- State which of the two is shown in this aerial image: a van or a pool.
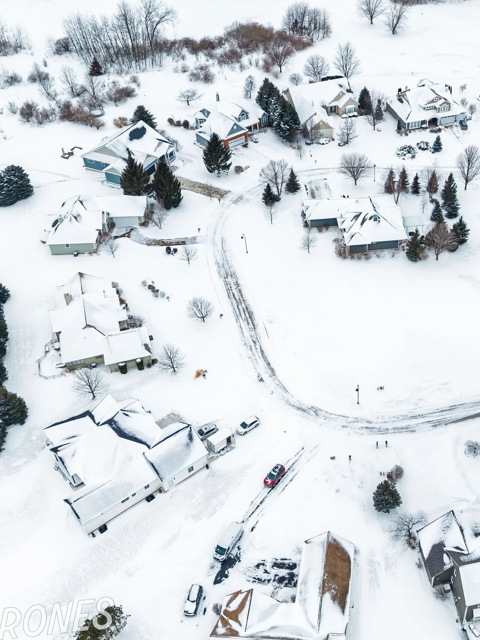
van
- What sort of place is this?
residential area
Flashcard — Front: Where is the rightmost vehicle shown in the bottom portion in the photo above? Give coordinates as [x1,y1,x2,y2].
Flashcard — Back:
[262,459,290,490]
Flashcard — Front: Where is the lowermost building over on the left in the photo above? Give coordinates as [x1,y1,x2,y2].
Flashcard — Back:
[34,390,211,535]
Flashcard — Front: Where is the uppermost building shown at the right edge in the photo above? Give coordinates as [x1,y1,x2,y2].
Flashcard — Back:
[386,76,468,131]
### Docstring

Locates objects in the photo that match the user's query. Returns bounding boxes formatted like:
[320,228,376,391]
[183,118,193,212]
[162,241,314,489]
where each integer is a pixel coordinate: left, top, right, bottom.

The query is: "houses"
[289,74,359,138]
[212,534,354,640]
[36,276,154,381]
[386,76,468,131]
[34,390,211,535]
[417,520,480,640]
[302,195,425,255]
[81,124,177,190]
[46,186,150,256]
[183,92,268,150]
